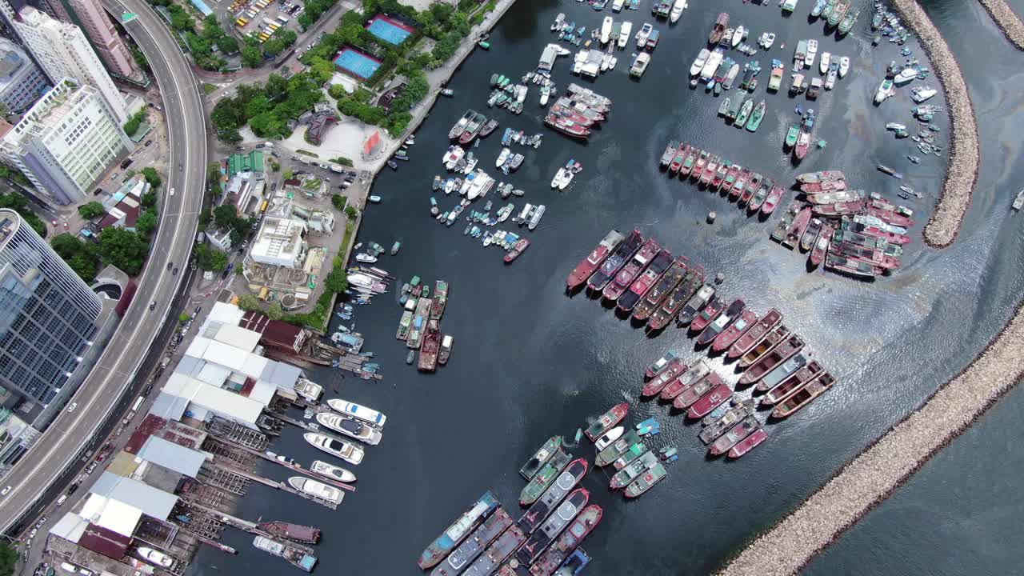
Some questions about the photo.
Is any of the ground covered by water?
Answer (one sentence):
Yes, some water is visible.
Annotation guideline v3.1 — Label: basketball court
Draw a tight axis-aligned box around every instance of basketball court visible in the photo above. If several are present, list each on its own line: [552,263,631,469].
[363,10,416,46]
[330,41,386,81]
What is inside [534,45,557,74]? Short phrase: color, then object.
white boat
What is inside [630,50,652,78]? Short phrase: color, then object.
white boat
